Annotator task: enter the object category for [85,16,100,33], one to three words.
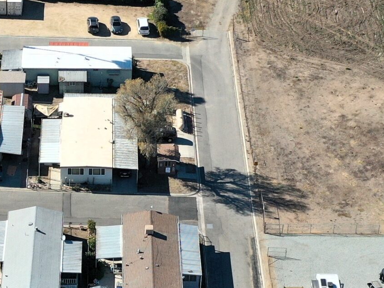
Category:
car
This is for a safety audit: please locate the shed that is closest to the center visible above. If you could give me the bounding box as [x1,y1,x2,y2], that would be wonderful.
[157,141,178,174]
